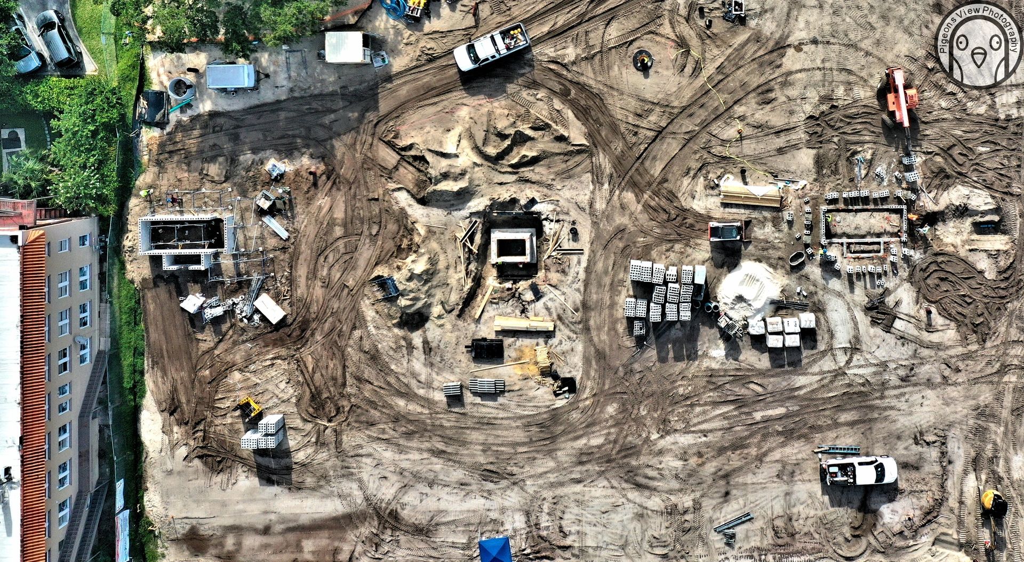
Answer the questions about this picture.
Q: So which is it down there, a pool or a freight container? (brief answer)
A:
freight container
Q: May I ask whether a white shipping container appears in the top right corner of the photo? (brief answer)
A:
No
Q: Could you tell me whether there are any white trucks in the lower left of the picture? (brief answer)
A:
No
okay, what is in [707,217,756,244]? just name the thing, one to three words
work vehicle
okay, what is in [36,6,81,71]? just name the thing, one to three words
car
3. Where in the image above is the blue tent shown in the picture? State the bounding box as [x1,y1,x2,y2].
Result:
[478,524,519,562]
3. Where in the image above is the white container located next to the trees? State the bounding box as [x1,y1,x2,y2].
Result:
[325,32,383,64]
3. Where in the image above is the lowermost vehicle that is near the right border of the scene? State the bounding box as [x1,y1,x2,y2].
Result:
[979,490,1009,540]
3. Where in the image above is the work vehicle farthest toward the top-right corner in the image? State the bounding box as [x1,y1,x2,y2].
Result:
[875,65,926,171]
